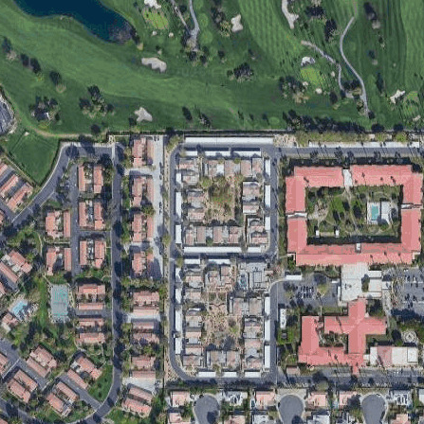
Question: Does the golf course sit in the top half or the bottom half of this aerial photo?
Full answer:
The golf course is in the top half of the image.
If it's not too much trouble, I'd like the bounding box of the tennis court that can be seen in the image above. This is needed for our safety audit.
[51,283,69,322]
